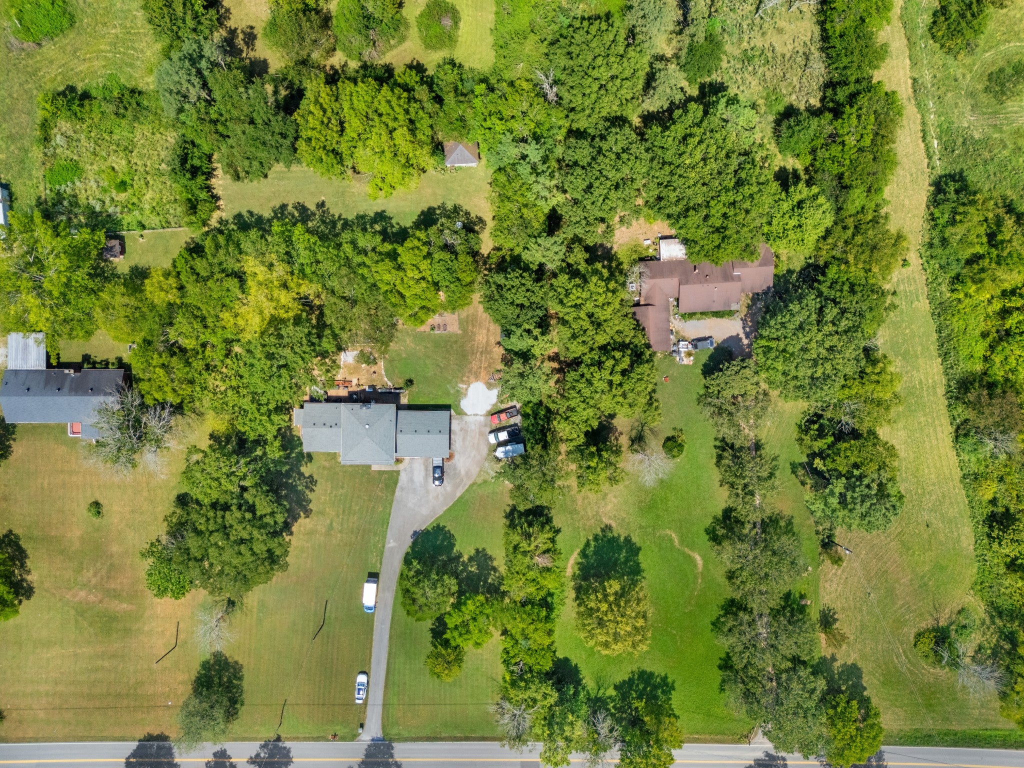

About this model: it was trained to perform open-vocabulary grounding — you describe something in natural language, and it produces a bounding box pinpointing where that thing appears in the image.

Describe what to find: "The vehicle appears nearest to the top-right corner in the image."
[690,337,716,351]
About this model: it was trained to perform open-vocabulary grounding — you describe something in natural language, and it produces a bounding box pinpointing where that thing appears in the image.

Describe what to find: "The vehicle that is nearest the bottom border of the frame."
[353,673,366,702]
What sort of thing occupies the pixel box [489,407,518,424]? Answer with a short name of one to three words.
vehicle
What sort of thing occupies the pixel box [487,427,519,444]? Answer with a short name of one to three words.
vehicle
